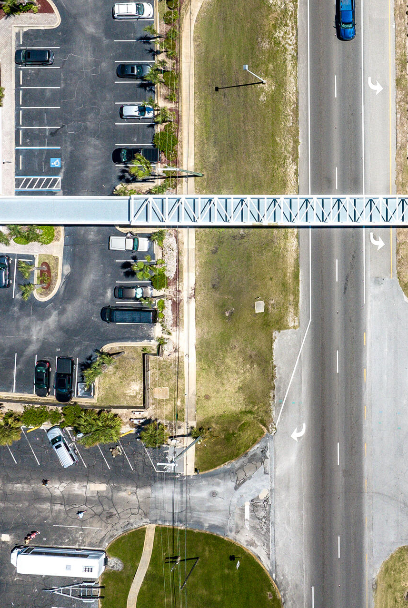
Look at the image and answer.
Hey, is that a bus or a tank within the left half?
bus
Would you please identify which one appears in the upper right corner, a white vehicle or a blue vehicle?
blue vehicle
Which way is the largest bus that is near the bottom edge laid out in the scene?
from side to side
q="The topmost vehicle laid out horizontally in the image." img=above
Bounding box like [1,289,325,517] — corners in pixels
[114,1,153,20]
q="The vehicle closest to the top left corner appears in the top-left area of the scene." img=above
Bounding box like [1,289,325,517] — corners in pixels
[15,48,55,66]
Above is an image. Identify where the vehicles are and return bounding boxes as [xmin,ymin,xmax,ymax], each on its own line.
[53,357,74,402]
[121,102,155,120]
[34,360,52,396]
[337,0,357,41]
[113,146,160,165]
[114,1,153,20]
[14,544,107,578]
[117,63,155,79]
[109,233,151,252]
[15,48,55,66]
[115,284,155,299]
[105,305,159,324]
[48,424,79,468]
[0,256,13,288]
